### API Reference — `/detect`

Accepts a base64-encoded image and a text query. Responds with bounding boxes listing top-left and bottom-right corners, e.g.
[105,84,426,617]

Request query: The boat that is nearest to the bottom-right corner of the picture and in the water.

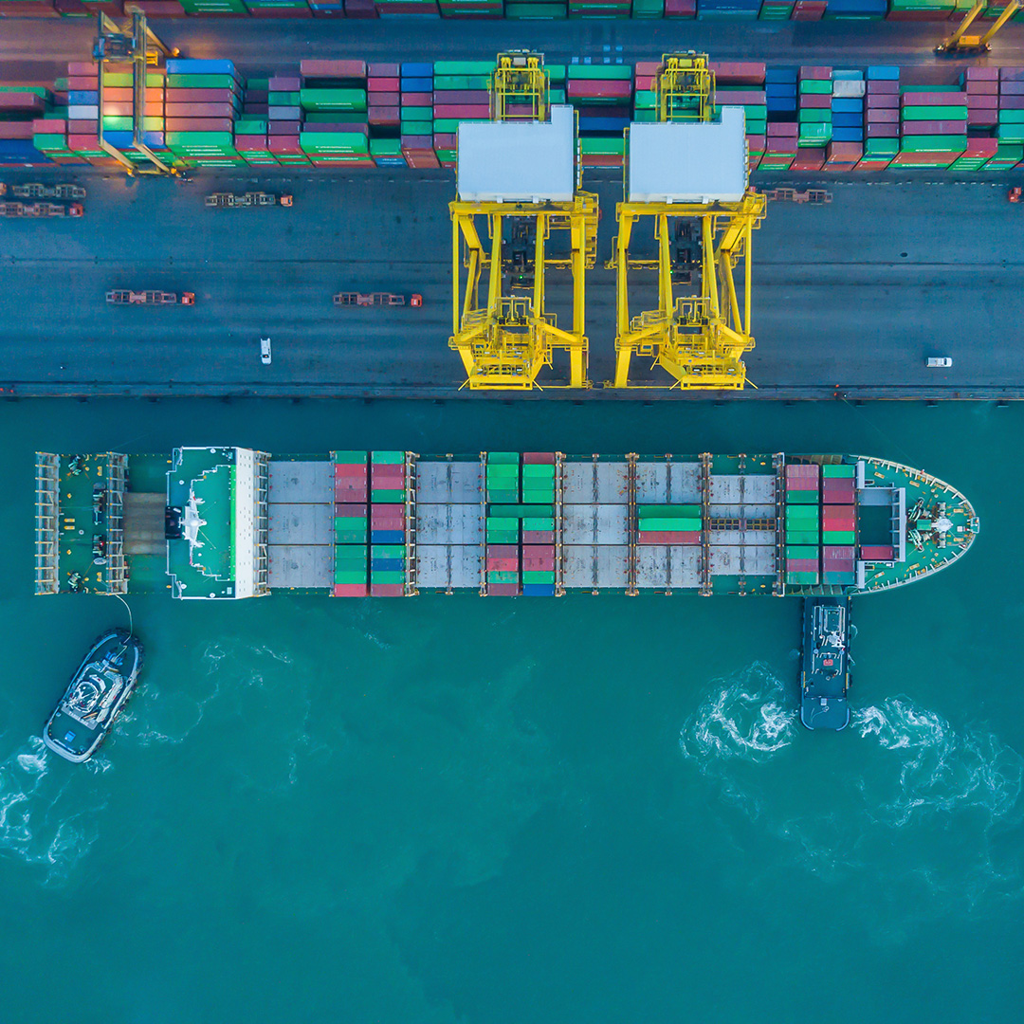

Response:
[796,594,855,732]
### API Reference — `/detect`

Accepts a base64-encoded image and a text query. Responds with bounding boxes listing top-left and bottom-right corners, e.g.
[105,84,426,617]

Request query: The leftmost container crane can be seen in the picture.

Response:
[83,1,179,177]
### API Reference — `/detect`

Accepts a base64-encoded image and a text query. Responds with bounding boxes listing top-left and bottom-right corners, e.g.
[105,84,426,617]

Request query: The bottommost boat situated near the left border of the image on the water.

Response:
[43,630,142,764]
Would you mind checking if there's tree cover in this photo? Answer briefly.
No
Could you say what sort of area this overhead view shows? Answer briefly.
port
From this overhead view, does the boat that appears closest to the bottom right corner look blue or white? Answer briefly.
blue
